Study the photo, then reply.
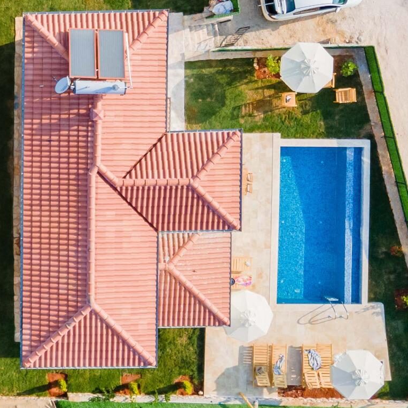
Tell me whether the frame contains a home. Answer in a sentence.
Yes, the frame does contain a home.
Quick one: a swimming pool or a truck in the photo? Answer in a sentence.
Visible in the photo is a swimming pool.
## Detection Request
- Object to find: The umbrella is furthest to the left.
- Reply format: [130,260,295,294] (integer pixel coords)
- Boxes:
[231,292,273,340]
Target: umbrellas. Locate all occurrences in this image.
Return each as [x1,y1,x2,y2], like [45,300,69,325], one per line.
[329,350,383,399]
[231,292,273,340]
[282,42,332,92]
